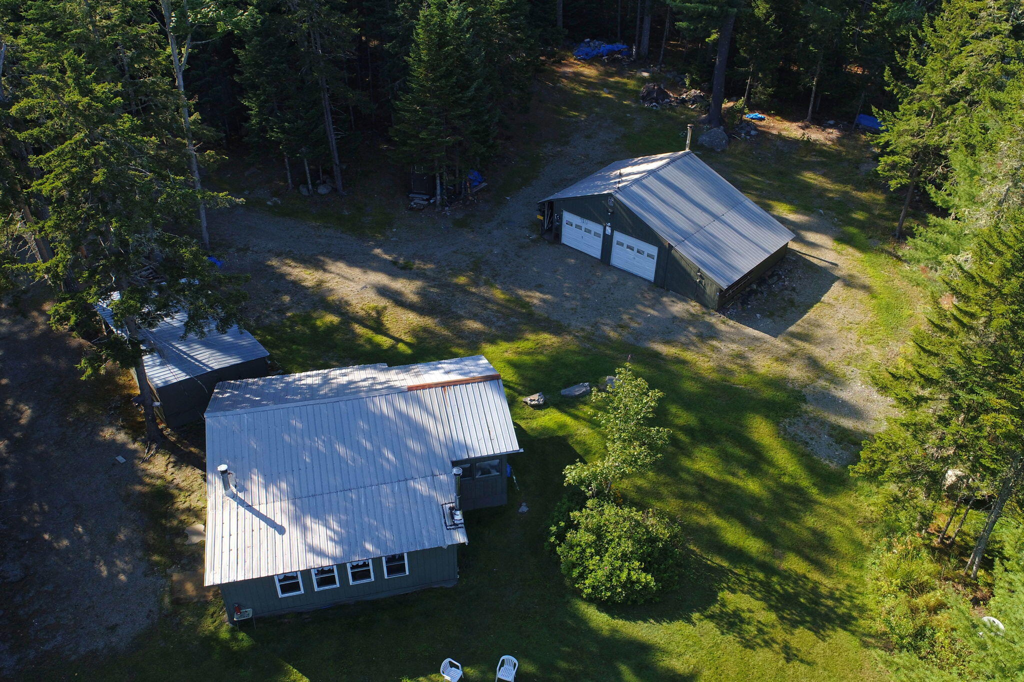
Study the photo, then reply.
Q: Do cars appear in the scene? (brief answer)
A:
No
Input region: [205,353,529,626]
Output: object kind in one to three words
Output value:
house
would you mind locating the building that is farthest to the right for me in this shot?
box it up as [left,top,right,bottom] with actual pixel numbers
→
[536,125,793,315]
